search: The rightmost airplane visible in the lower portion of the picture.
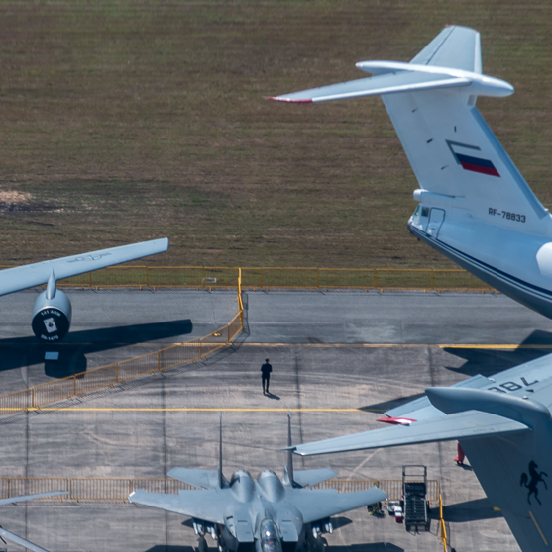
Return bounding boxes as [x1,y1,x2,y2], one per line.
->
[274,382,552,552]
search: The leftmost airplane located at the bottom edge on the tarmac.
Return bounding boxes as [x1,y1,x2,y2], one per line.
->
[127,418,387,552]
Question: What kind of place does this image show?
airport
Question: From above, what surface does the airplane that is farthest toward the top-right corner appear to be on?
grass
